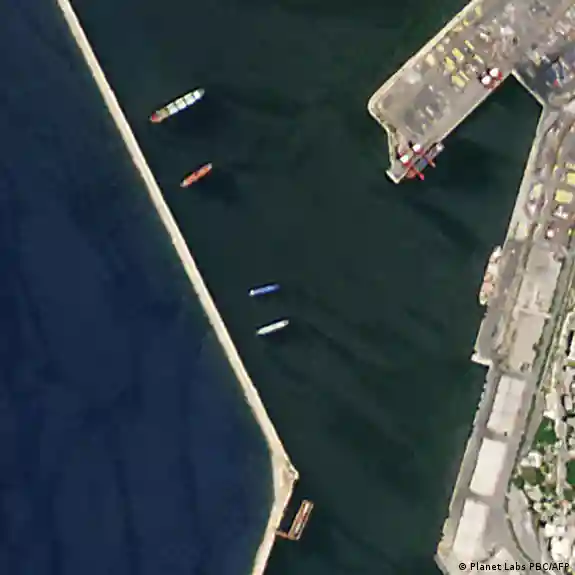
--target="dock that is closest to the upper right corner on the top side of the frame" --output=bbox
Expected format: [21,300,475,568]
[366,15,510,184]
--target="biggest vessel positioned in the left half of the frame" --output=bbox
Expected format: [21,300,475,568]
[149,90,205,122]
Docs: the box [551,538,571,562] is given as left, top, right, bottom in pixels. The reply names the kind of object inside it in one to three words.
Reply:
building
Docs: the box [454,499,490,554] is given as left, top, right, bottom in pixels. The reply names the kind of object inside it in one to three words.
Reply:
building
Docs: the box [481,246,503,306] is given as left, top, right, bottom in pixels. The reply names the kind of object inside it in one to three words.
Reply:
ship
